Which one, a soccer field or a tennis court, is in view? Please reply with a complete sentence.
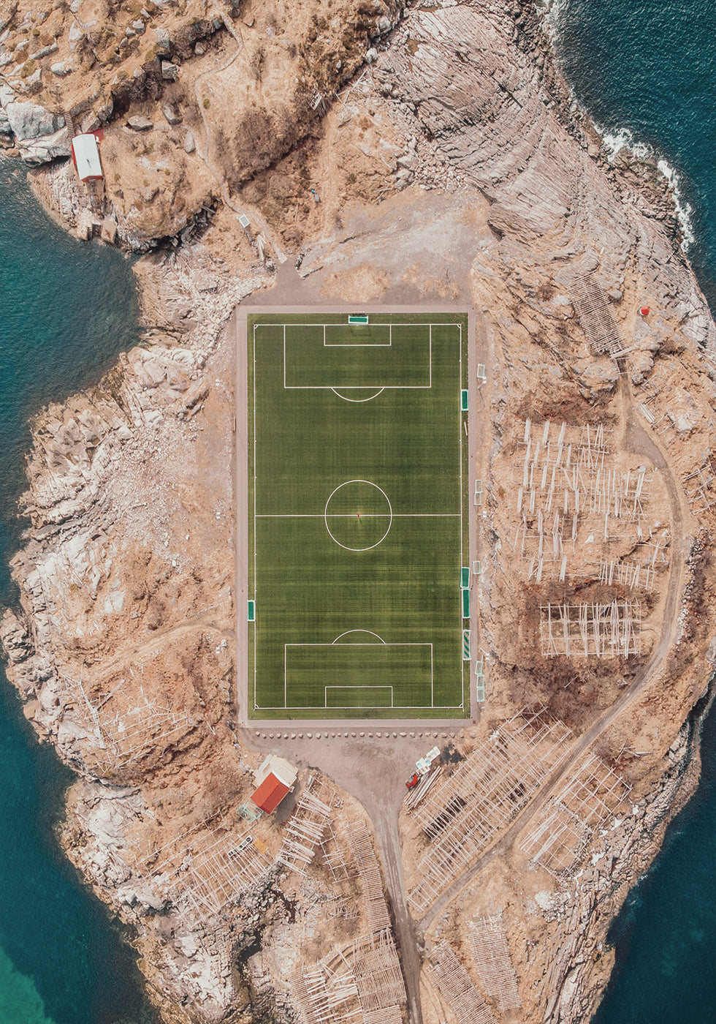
There is a soccer field in the scene.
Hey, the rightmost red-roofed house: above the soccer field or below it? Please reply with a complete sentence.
The rightmost red-roofed house is below the soccer field.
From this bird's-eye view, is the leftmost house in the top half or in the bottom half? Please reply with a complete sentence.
You can find the leftmost house in the top half.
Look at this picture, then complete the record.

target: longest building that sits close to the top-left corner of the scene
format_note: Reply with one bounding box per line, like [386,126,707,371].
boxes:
[70,133,106,185]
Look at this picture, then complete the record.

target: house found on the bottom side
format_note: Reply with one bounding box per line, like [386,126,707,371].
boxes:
[251,771,291,814]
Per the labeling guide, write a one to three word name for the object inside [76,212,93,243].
pier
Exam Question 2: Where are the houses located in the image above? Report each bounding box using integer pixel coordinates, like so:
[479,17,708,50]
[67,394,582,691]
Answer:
[251,771,291,814]
[70,133,106,185]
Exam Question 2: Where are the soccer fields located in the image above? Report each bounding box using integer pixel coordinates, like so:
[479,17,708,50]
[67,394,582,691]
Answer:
[248,314,469,719]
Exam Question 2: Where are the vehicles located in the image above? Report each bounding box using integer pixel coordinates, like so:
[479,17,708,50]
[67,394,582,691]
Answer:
[404,773,421,792]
